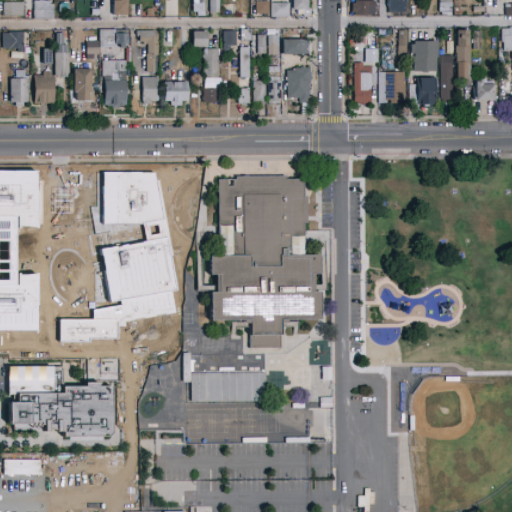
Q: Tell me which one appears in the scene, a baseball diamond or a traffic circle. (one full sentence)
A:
The image shows a baseball diamond.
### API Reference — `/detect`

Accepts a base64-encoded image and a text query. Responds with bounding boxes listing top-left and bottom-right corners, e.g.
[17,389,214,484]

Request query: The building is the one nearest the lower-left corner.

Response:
[4,460,43,476]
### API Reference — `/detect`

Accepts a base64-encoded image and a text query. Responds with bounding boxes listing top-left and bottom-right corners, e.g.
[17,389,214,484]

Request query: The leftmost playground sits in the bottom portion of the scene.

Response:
[140,392,166,418]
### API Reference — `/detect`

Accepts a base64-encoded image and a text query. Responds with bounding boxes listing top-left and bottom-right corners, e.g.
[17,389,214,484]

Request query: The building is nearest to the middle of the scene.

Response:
[212,176,322,348]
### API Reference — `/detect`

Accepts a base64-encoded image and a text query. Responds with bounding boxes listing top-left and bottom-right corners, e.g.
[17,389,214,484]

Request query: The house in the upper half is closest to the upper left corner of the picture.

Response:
[2,1,25,16]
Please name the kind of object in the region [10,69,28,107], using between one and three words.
house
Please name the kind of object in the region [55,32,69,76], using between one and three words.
house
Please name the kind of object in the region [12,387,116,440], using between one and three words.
building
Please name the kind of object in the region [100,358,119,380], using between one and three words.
shed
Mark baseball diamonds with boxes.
[414,377,475,440]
